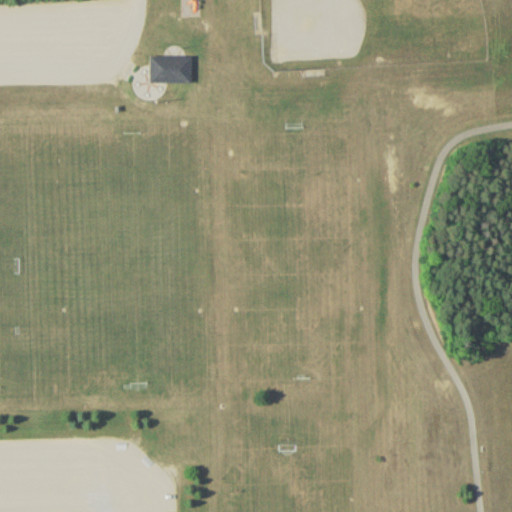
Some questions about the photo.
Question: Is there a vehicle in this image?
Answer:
No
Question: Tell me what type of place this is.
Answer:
sports ground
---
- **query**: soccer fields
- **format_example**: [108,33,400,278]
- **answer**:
[234,130,362,446]
[20,134,203,385]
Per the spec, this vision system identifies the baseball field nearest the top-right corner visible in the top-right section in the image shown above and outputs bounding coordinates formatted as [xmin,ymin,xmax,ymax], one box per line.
[268,0,486,70]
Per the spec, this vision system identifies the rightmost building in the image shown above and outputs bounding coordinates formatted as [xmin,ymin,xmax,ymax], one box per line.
[150,56,192,82]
